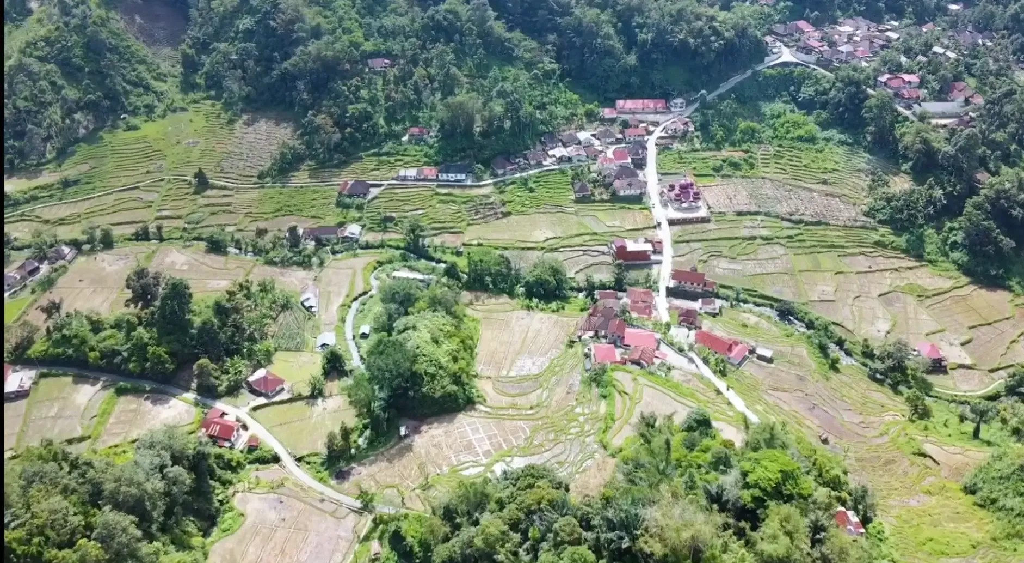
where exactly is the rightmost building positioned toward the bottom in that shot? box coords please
[916,342,954,372]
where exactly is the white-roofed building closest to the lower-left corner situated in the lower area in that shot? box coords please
[0,369,38,401]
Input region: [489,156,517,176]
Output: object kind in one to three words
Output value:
house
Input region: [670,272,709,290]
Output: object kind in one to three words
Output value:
house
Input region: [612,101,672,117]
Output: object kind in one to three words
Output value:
building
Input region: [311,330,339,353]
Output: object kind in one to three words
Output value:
barn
